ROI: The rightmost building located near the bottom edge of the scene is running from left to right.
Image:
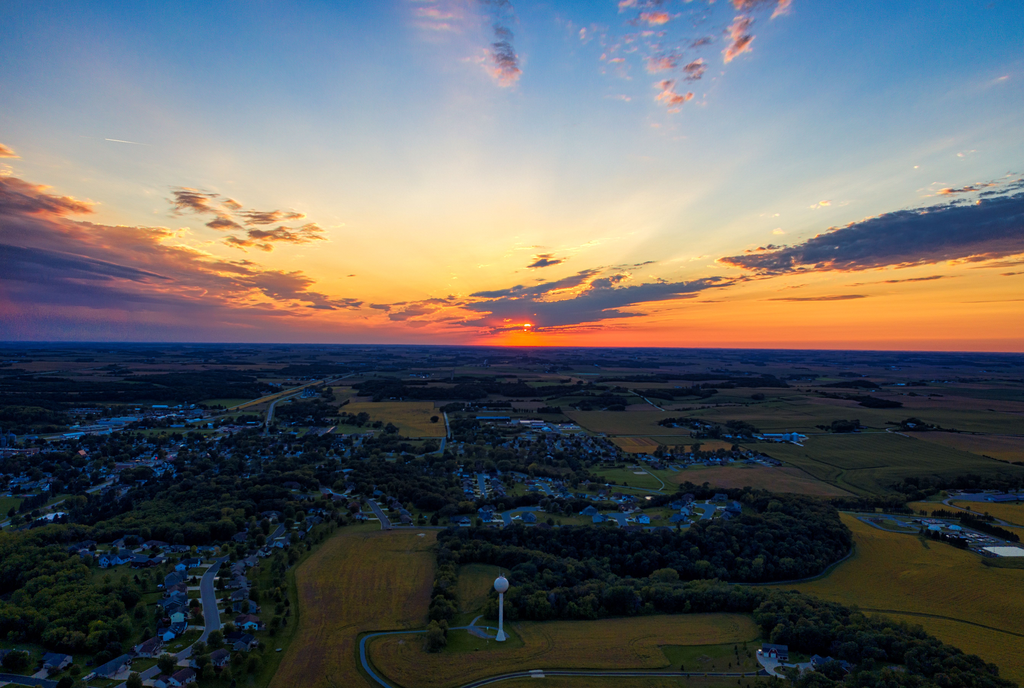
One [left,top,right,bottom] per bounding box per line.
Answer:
[803,653,845,671]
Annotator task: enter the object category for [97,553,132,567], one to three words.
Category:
house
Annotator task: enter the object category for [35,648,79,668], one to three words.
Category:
house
